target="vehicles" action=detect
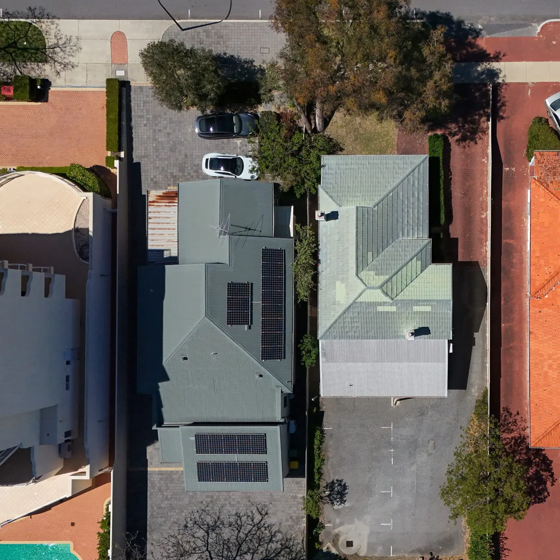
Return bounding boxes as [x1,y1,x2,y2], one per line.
[193,110,259,142]
[201,151,259,180]
[545,91,560,132]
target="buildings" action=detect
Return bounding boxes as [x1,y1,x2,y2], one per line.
[524,150,560,449]
[316,154,453,397]
[136,178,297,492]
[0,169,111,529]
